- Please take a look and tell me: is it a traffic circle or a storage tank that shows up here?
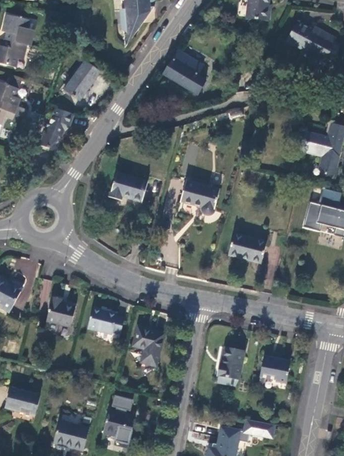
traffic circle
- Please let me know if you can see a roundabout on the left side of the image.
Yes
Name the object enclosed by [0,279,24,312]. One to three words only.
house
